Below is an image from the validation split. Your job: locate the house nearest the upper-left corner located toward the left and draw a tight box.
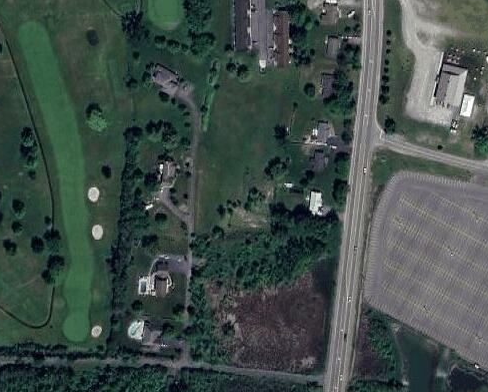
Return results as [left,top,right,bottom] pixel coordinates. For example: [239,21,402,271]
[149,62,179,97]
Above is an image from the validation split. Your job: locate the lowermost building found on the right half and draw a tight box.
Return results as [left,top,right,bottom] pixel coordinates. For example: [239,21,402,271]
[308,192,324,216]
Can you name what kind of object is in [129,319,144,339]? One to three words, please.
swimming pool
